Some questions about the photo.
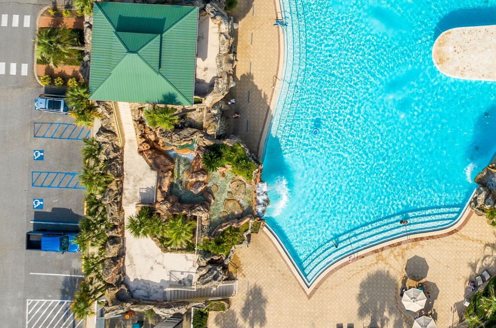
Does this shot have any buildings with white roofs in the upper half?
No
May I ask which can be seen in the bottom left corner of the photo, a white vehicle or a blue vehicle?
blue vehicle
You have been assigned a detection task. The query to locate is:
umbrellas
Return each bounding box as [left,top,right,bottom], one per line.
[402,287,426,311]
[412,314,437,328]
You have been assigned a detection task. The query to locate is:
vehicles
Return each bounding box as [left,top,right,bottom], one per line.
[25,228,80,253]
[33,94,72,116]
